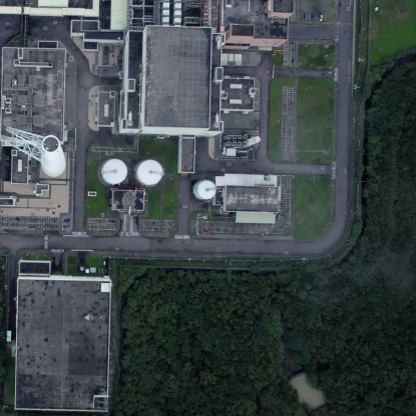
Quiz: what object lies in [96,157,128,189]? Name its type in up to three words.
storage tank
